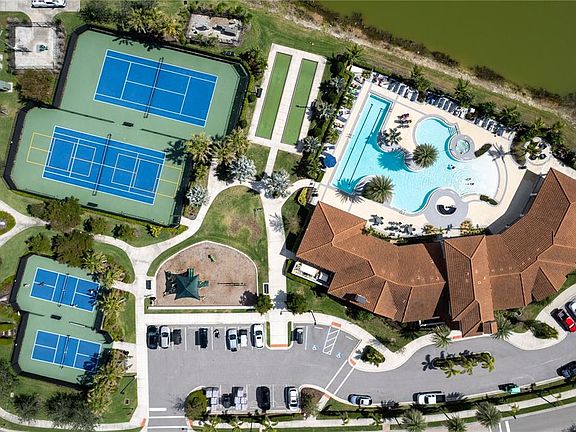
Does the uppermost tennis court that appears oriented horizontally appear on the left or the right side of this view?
left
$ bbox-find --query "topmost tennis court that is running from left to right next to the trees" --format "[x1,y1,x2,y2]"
[58,30,248,148]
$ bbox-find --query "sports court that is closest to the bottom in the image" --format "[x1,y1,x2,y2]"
[20,315,112,392]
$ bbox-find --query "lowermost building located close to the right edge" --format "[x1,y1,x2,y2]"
[442,168,576,338]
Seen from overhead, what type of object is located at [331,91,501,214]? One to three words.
swimming pool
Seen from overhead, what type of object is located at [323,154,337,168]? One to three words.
umbrella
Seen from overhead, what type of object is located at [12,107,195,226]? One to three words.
tennis court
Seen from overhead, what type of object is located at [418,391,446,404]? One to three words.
vehicle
